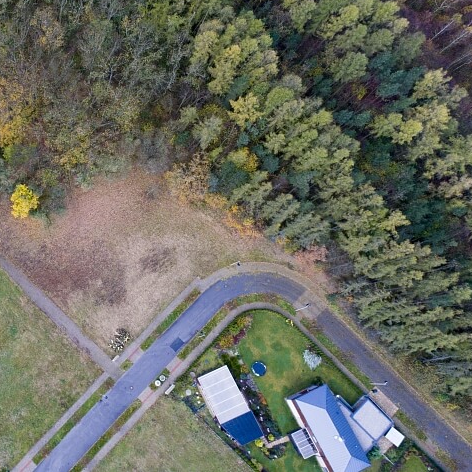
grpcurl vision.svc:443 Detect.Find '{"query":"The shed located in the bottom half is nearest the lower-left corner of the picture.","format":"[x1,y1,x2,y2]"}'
[196,364,263,445]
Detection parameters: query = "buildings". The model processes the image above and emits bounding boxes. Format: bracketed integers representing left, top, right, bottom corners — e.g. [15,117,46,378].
[285,383,376,472]
[196,364,263,445]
